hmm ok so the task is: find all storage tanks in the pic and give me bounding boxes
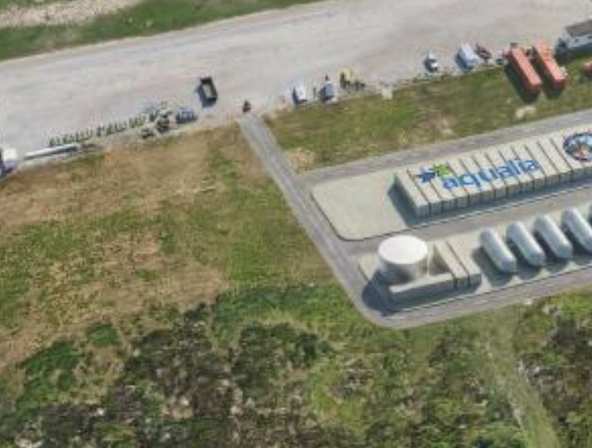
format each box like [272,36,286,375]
[534,212,574,265]
[479,228,518,281]
[377,233,429,286]
[563,205,592,251]
[507,220,546,274]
